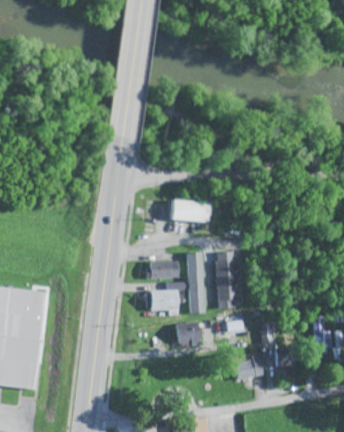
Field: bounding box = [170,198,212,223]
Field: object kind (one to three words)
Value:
building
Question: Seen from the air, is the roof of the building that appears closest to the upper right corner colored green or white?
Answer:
white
